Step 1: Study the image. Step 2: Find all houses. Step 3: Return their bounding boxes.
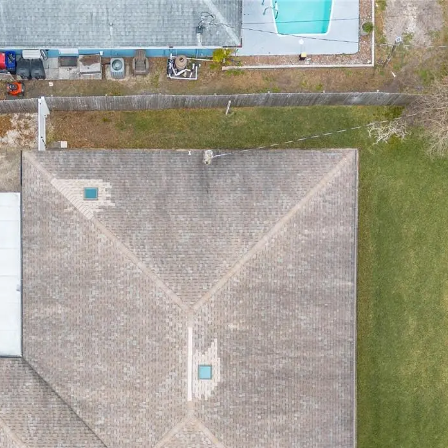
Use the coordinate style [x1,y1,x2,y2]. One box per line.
[0,148,359,448]
[0,0,243,61]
